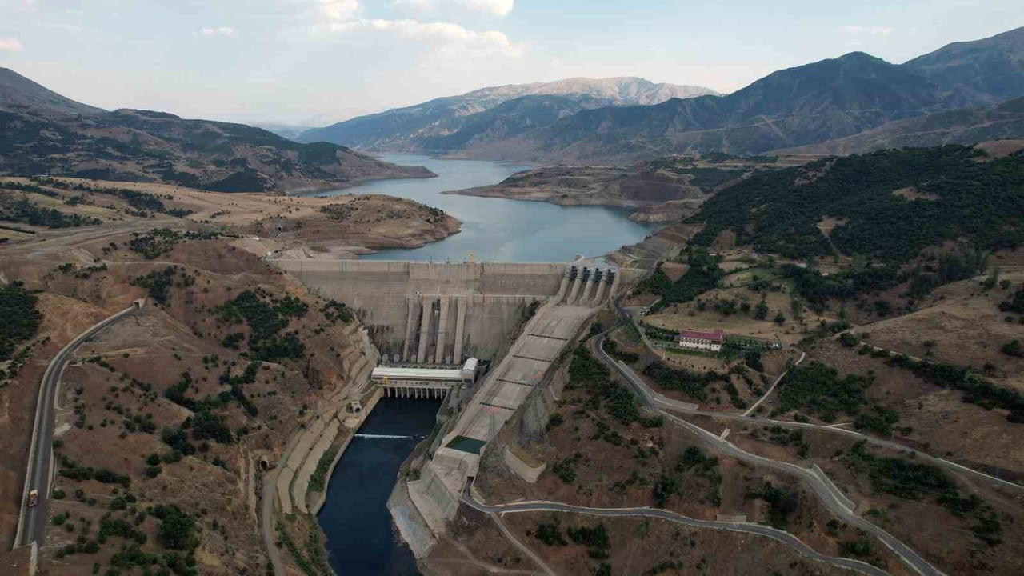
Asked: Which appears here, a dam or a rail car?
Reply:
dam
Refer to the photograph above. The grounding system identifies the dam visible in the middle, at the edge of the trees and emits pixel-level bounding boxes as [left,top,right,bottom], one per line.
[263,257,567,360]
